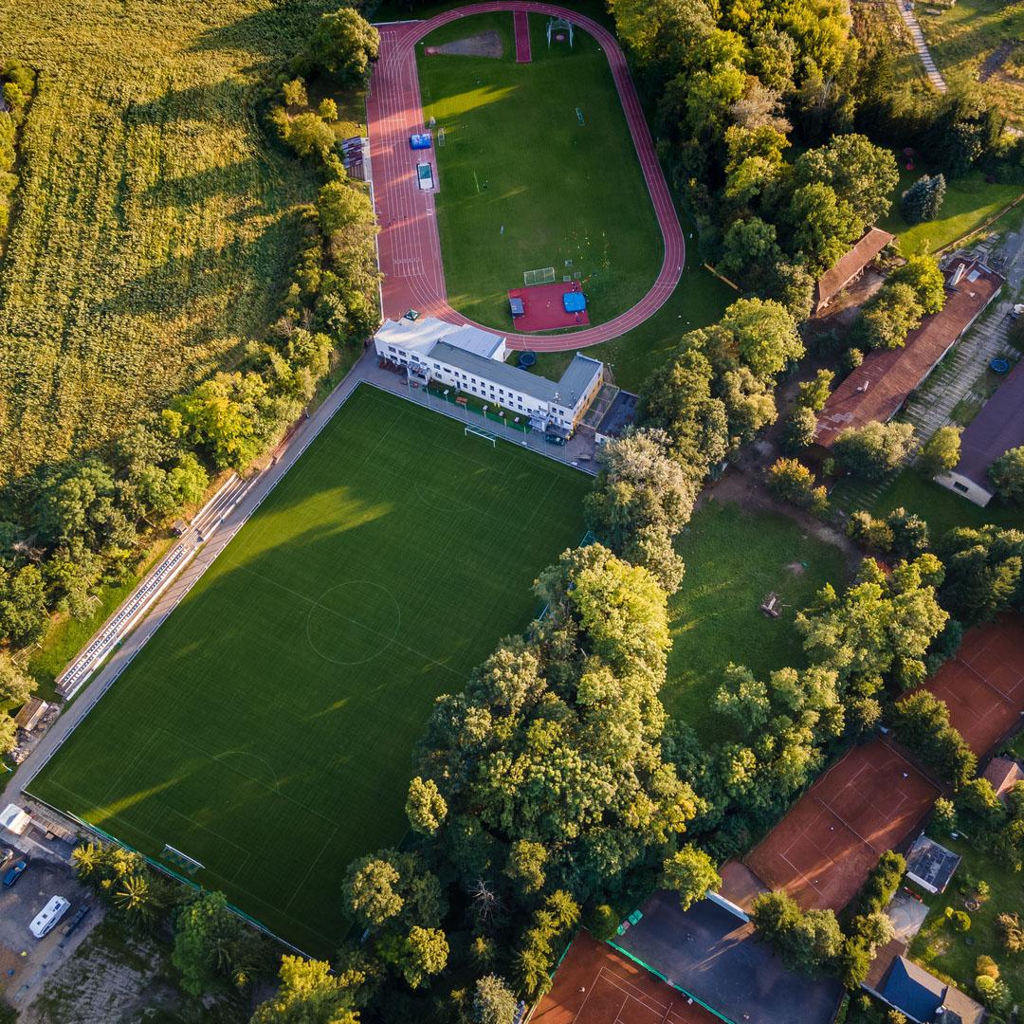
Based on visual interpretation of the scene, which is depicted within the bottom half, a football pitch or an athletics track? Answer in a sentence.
There is a football pitch within the bottom half.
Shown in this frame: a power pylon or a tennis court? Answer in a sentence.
It is a tennis court that can be seen here.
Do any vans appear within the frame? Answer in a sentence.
Yes, there is a van in the image.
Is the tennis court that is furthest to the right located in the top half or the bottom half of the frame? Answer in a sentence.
The tennis court that is furthest to the right is in the bottom half of the image.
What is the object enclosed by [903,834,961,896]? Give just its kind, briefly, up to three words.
shed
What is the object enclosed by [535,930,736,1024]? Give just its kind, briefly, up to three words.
tennis court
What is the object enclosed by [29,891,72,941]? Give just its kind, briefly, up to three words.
van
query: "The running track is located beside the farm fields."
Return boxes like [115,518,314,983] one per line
[364,4,690,350]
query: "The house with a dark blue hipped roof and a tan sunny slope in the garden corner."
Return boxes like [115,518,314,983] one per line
[879,957,992,1024]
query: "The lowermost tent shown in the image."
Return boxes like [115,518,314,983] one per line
[0,804,37,838]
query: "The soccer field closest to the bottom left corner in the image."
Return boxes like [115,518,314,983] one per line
[27,383,606,964]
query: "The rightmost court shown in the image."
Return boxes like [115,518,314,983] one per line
[894,609,1024,761]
